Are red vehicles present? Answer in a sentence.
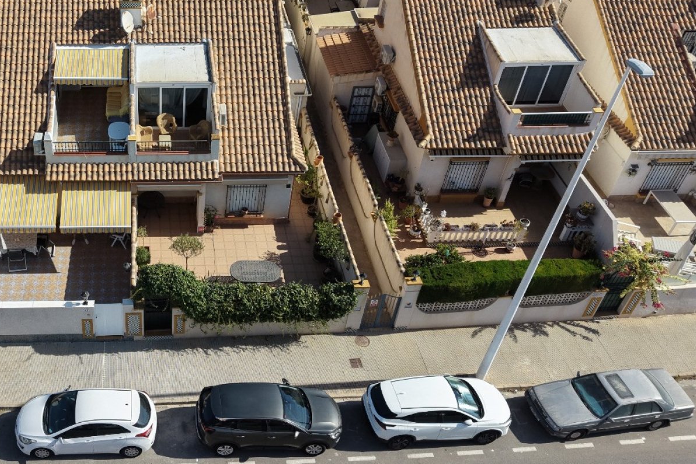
No, I can't see a single red vehicle in this photo.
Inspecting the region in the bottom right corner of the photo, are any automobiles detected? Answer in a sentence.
Yes, looking in the bottom right corner of the photo, one can make out an automobile.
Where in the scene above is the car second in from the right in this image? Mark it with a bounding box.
[362,368,513,453]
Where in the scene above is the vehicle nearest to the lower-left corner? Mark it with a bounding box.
[16,384,159,462]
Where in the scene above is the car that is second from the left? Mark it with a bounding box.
[192,378,343,460]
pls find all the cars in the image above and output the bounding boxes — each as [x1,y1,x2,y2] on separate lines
[519,367,694,443]
[16,384,159,462]
[362,368,513,453]
[192,378,343,460]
